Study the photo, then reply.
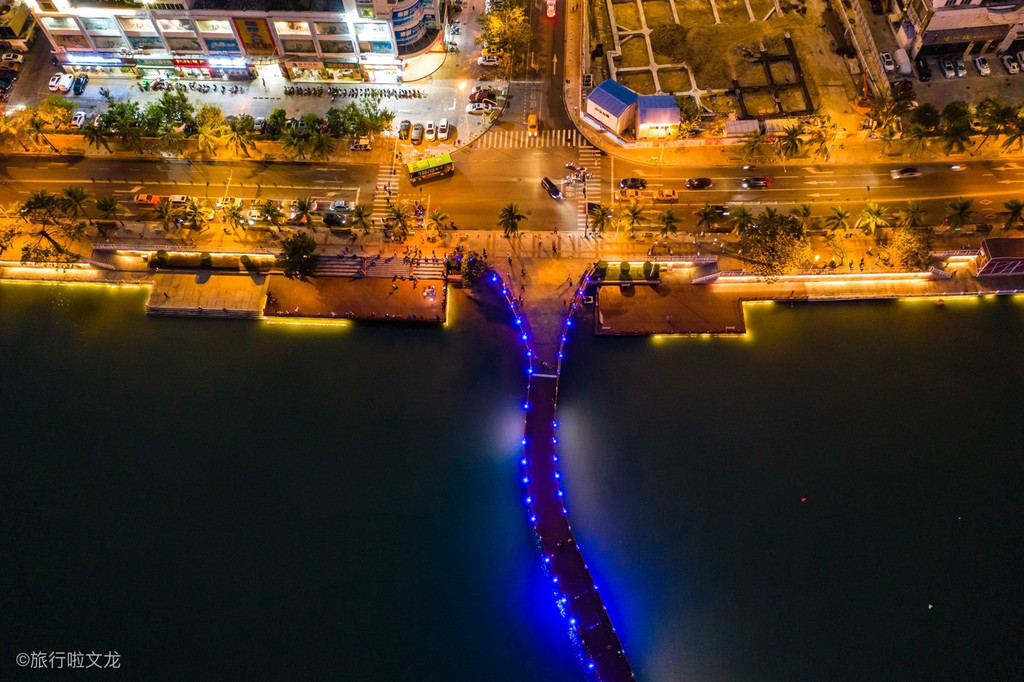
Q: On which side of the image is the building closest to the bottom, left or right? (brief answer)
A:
right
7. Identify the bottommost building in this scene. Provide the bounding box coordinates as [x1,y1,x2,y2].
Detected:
[976,235,1024,279]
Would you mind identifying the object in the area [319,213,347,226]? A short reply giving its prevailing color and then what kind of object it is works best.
black vehicle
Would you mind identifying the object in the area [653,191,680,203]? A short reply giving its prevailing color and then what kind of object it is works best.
yellow vehicle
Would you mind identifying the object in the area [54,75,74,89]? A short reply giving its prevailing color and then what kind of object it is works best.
white vehicle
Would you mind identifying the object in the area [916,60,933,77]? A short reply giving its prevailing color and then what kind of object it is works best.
black car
